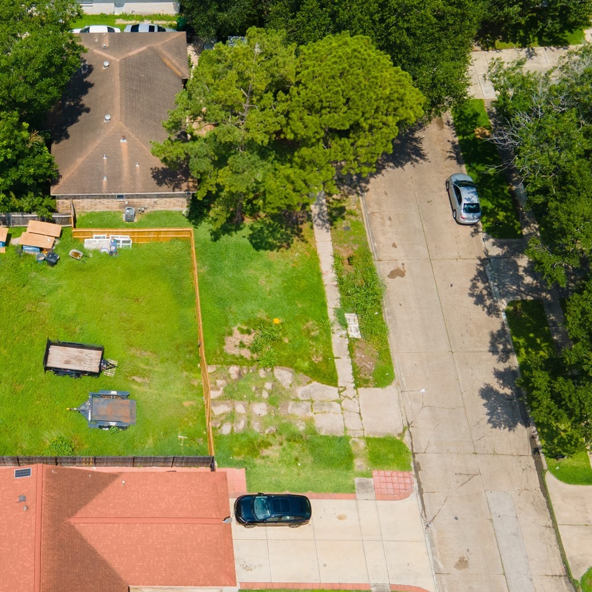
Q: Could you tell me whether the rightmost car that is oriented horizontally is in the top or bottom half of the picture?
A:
bottom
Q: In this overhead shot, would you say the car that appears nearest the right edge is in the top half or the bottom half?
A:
top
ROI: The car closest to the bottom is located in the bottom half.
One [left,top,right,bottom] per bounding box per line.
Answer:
[233,491,313,530]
